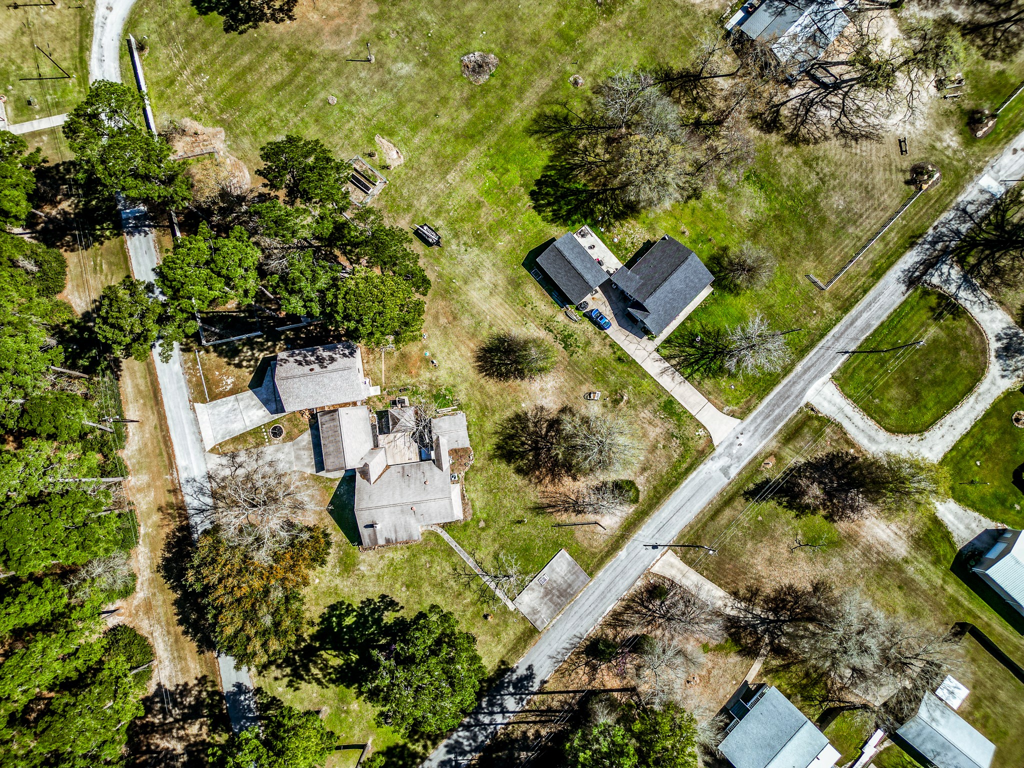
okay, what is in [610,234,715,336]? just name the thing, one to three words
house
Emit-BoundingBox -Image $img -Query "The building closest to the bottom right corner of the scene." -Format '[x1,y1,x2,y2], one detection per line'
[890,689,1000,768]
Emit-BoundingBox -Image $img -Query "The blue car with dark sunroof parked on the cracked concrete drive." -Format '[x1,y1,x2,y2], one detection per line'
[590,308,613,331]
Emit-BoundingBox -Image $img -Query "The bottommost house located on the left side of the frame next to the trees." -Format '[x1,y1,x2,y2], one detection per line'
[318,406,470,547]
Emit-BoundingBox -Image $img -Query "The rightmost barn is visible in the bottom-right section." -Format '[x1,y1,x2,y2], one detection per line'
[970,529,1024,618]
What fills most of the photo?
grass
